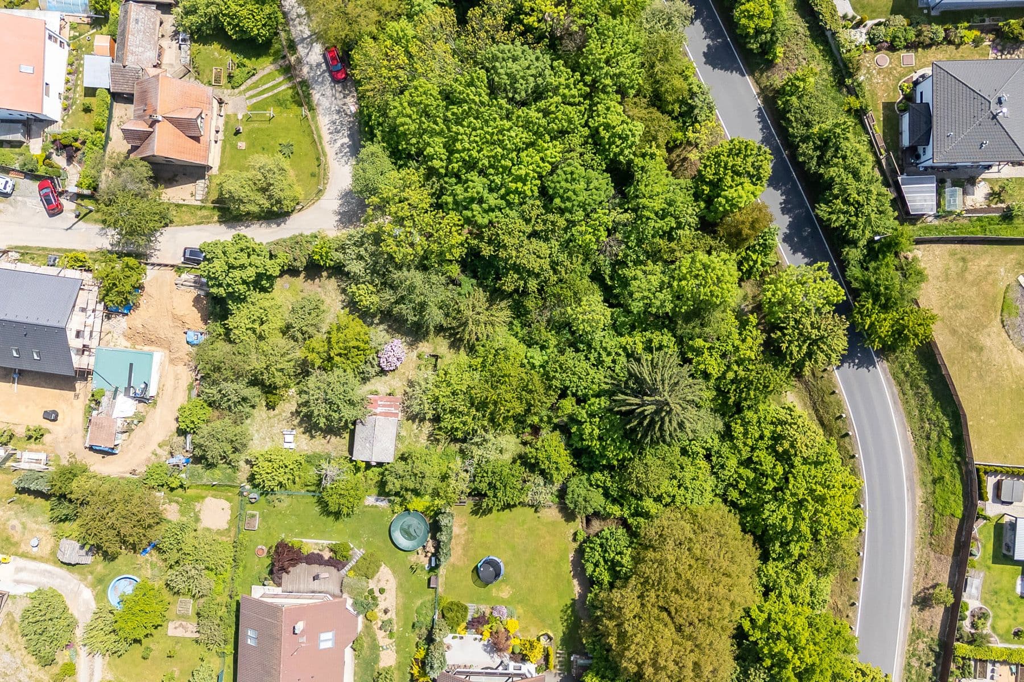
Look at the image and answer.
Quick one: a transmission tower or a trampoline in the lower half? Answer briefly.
trampoline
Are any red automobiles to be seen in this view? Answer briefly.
Yes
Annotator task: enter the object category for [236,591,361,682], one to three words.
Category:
house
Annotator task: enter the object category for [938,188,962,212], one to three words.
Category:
greenhouse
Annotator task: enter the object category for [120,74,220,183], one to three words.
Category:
house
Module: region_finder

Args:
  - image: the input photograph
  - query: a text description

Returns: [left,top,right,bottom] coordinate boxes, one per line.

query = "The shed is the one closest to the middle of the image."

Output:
[352,396,403,461]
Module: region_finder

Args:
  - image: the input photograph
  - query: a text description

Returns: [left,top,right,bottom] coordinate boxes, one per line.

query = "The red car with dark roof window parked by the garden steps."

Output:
[35,178,62,216]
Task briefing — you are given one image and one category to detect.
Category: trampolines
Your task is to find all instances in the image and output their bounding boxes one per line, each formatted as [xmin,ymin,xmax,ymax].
[474,562,501,593]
